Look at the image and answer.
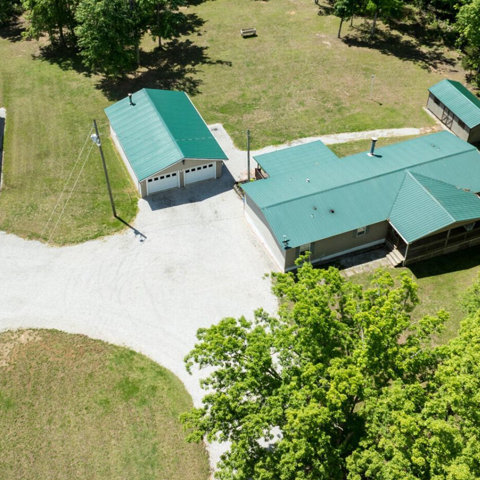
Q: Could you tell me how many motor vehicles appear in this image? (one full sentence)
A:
I count no motor vehicles.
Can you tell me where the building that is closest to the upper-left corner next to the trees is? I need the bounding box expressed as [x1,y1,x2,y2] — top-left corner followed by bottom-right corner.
[106,91,230,199]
